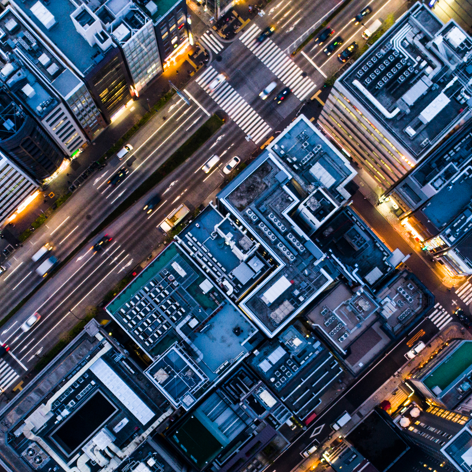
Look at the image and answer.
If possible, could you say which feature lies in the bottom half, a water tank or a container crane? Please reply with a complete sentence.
Visible in the bottom half is a water tank.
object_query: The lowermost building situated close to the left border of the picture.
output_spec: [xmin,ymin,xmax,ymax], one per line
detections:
[0,320,173,472]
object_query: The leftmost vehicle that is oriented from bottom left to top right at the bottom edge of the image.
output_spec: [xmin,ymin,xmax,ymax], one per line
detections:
[302,443,319,460]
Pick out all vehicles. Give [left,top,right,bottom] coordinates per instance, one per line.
[34,254,59,278]
[111,167,128,186]
[353,6,371,24]
[161,204,189,231]
[455,309,472,327]
[316,28,333,45]
[203,77,220,95]
[0,264,8,276]
[259,82,276,99]
[115,143,134,161]
[144,195,162,212]
[302,443,319,460]
[33,245,51,262]
[256,27,274,44]
[324,38,343,55]
[274,87,292,104]
[202,155,220,173]
[284,418,297,431]
[330,411,353,430]
[224,156,242,174]
[407,342,425,359]
[24,311,41,328]
[360,14,384,41]
[0,345,9,358]
[94,233,111,251]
